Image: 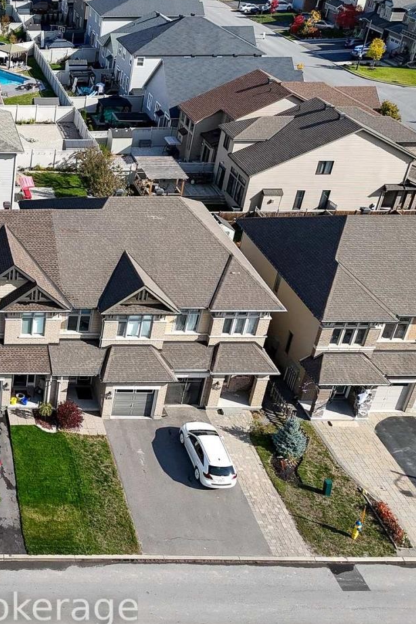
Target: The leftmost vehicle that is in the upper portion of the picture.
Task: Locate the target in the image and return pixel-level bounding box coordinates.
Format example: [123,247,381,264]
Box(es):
[238,0,263,13]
